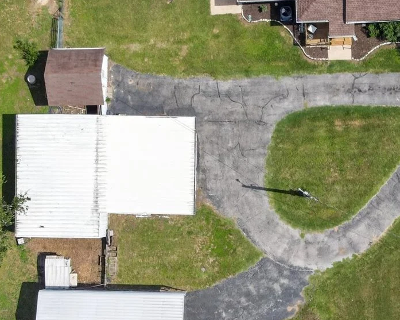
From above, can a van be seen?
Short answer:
No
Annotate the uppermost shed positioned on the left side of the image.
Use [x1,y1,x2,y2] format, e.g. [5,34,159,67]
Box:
[45,47,107,106]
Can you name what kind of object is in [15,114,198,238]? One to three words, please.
building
